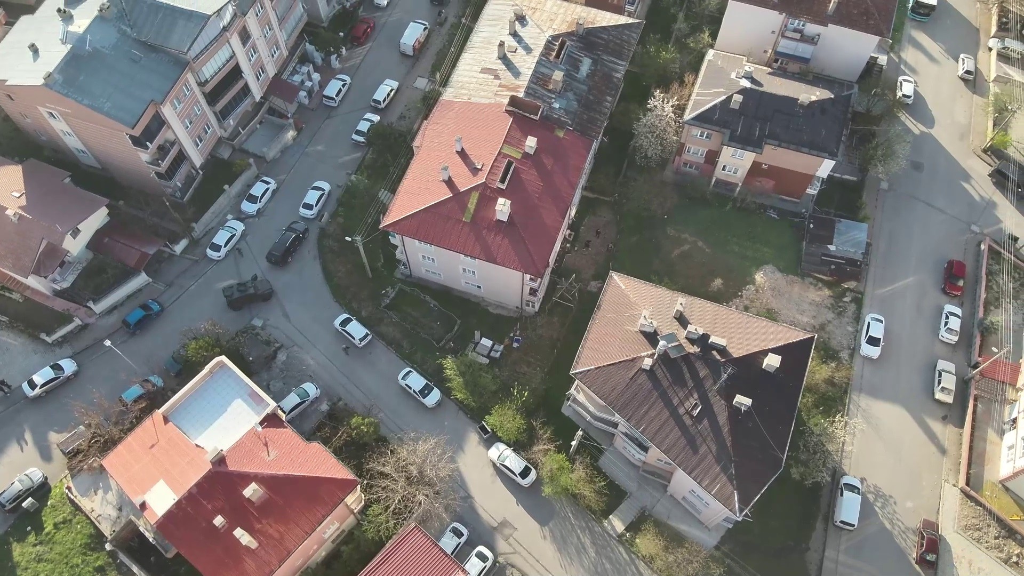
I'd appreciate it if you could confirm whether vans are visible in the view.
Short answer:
Yes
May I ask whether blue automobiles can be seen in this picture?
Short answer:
Yes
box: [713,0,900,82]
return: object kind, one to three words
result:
house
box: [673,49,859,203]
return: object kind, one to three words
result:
house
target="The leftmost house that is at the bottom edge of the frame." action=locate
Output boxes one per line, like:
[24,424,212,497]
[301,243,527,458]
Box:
[102,356,370,576]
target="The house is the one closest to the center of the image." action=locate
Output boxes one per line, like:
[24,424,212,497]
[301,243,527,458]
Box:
[379,99,599,307]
